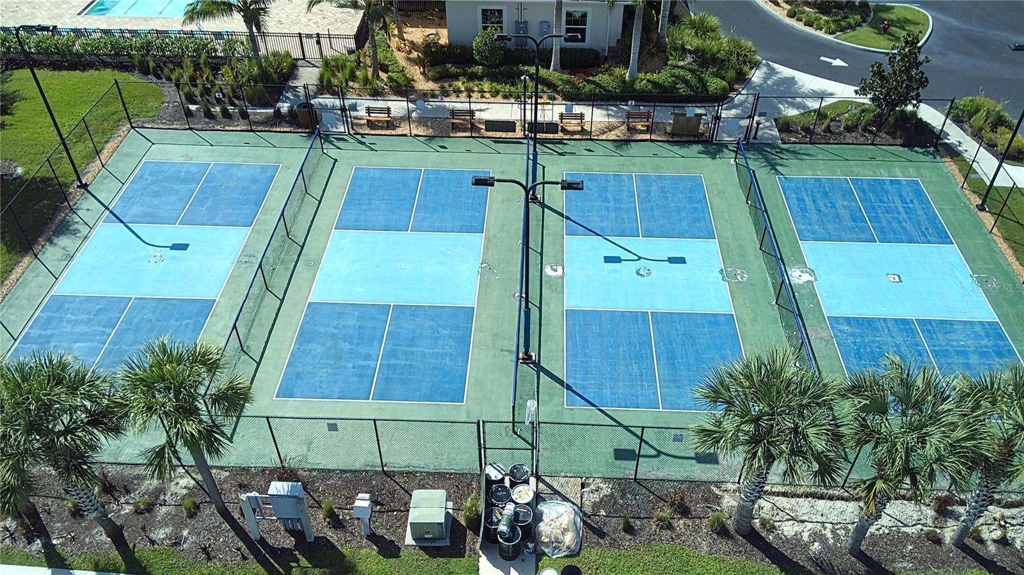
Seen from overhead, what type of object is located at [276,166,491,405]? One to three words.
sports court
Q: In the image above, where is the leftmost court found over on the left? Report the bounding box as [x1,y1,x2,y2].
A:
[0,155,280,393]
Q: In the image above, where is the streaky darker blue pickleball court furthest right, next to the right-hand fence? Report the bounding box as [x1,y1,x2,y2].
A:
[776,175,1024,423]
